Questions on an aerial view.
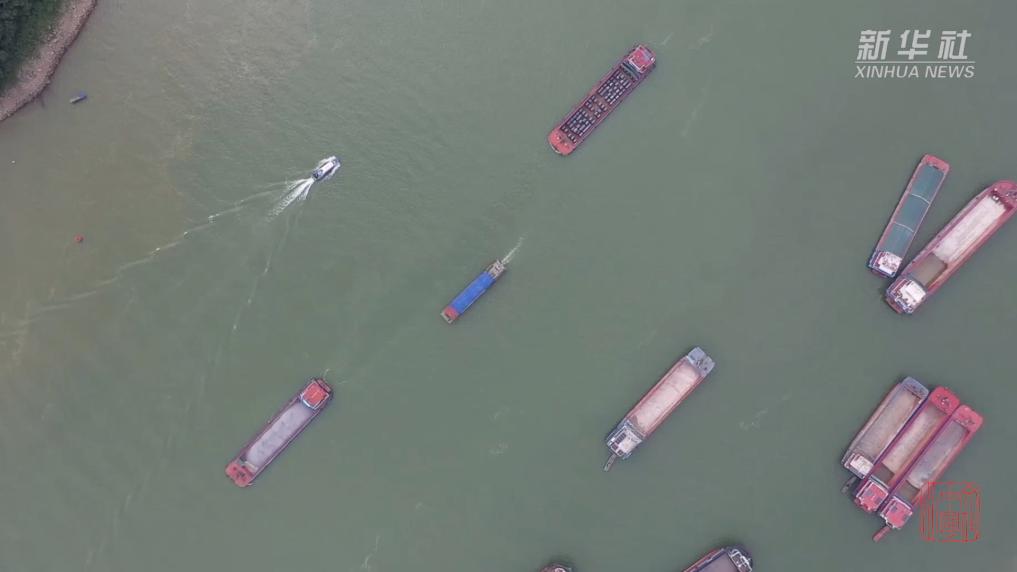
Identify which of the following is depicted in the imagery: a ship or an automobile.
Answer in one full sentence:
There is a ship in the scene.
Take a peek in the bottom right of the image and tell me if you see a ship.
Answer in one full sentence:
Yes, the scene does show a ship in the bottom right of the image.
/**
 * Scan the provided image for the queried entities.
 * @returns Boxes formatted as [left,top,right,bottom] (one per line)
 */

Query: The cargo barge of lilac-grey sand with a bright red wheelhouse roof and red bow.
[224,377,335,490]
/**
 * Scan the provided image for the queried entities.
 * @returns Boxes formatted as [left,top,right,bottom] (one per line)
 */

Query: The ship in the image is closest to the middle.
[441,259,506,323]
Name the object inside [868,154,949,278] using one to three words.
ship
